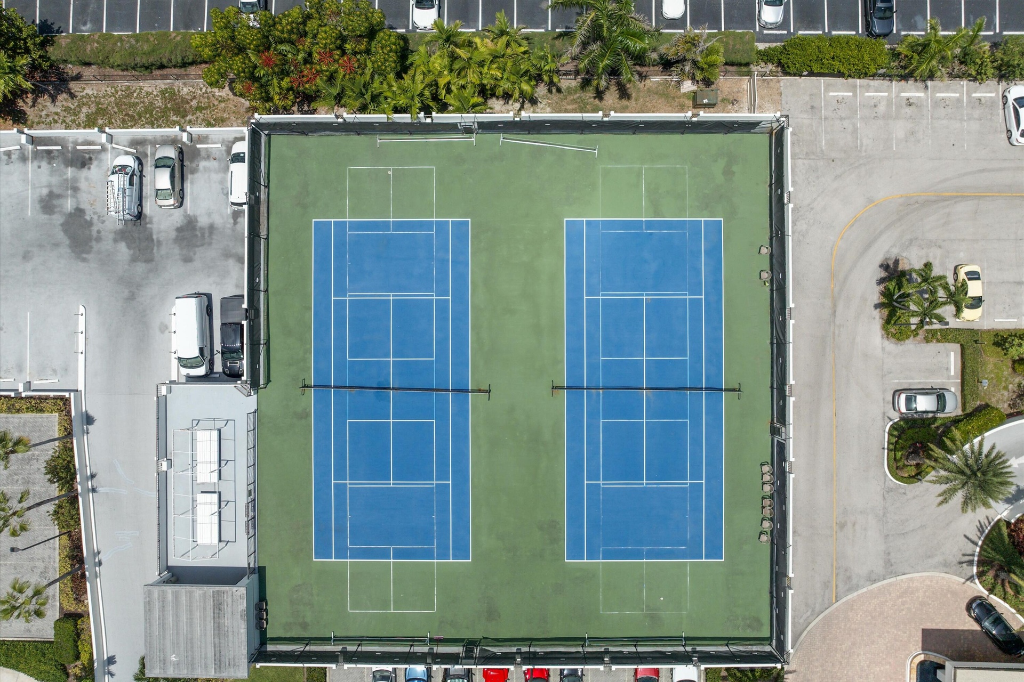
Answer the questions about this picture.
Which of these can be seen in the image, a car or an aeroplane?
car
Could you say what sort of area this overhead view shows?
sports ground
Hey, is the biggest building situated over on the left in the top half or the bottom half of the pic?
bottom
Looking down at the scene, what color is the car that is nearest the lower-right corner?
black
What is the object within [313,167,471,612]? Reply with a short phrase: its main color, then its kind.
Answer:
blue tennis court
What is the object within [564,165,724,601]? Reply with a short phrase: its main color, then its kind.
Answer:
blue tennis court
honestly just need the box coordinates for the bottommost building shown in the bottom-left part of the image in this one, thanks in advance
[144,575,266,678]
